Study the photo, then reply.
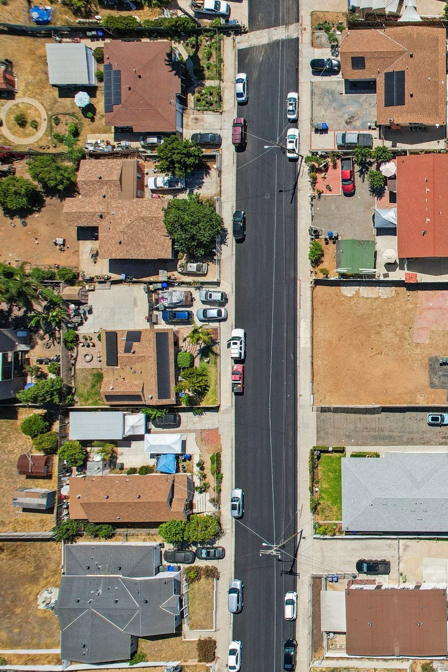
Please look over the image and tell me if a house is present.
Yes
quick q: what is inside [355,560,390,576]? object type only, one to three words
vehicle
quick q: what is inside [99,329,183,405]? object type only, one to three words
house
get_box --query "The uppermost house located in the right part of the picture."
[338,25,446,125]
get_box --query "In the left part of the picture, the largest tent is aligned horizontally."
[145,433,189,454]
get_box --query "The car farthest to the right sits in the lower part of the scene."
[426,413,448,427]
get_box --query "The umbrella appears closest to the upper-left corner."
[75,92,94,108]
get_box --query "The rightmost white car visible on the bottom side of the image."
[283,590,299,622]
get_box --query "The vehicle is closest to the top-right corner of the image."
[310,57,339,72]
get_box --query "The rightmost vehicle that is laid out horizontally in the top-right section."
[336,131,374,146]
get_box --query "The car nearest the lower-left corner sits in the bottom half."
[164,550,196,565]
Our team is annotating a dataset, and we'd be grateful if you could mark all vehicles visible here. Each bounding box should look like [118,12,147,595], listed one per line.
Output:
[426,413,448,427]
[164,550,196,565]
[162,310,195,324]
[230,488,246,518]
[198,289,228,304]
[228,578,244,614]
[177,262,209,275]
[195,547,227,561]
[231,116,249,147]
[286,92,300,121]
[310,57,339,72]
[230,361,246,393]
[336,131,374,146]
[286,129,300,159]
[228,639,243,672]
[283,637,298,671]
[340,157,355,194]
[190,0,231,15]
[190,131,222,146]
[147,175,186,190]
[197,308,229,322]
[231,209,247,239]
[234,73,250,104]
[149,413,182,428]
[223,327,246,360]
[355,560,390,576]
[283,590,299,622]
